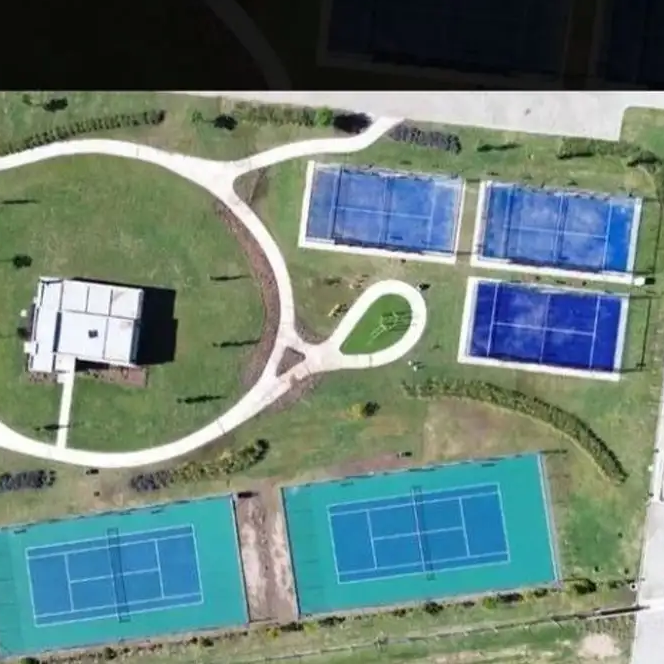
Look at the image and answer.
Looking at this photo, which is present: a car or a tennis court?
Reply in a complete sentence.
Looking from above, you can make out a tennis court.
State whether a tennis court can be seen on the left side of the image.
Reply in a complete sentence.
Yes, looking on the left side of the image, one can make out a tennis court.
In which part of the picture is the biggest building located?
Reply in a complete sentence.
You can find the biggest building in the left area of the picture.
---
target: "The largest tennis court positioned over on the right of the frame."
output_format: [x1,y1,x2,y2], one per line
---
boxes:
[278,450,566,618]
